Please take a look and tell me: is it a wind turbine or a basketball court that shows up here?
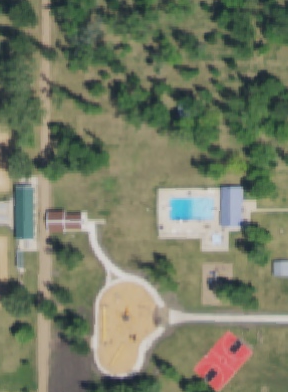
basketball court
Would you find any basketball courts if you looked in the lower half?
Yes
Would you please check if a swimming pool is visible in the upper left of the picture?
No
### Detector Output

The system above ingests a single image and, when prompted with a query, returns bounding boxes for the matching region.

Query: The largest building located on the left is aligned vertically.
[14,185,34,238]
